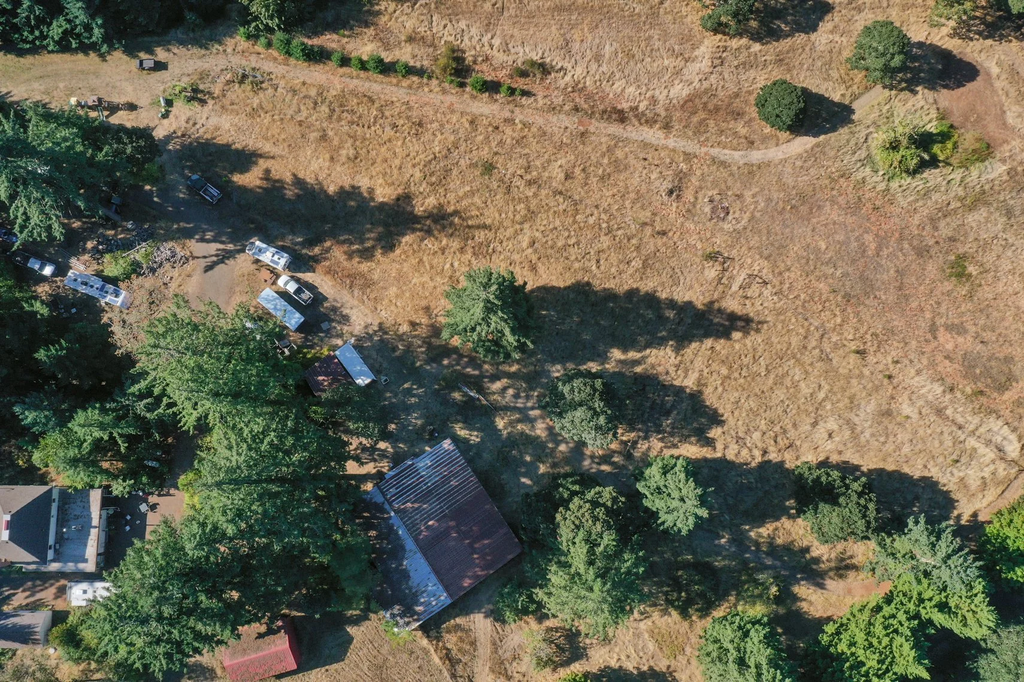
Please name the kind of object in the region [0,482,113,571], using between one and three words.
house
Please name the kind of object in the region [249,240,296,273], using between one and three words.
camper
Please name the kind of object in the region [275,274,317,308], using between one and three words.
truck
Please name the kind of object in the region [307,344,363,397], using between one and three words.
building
